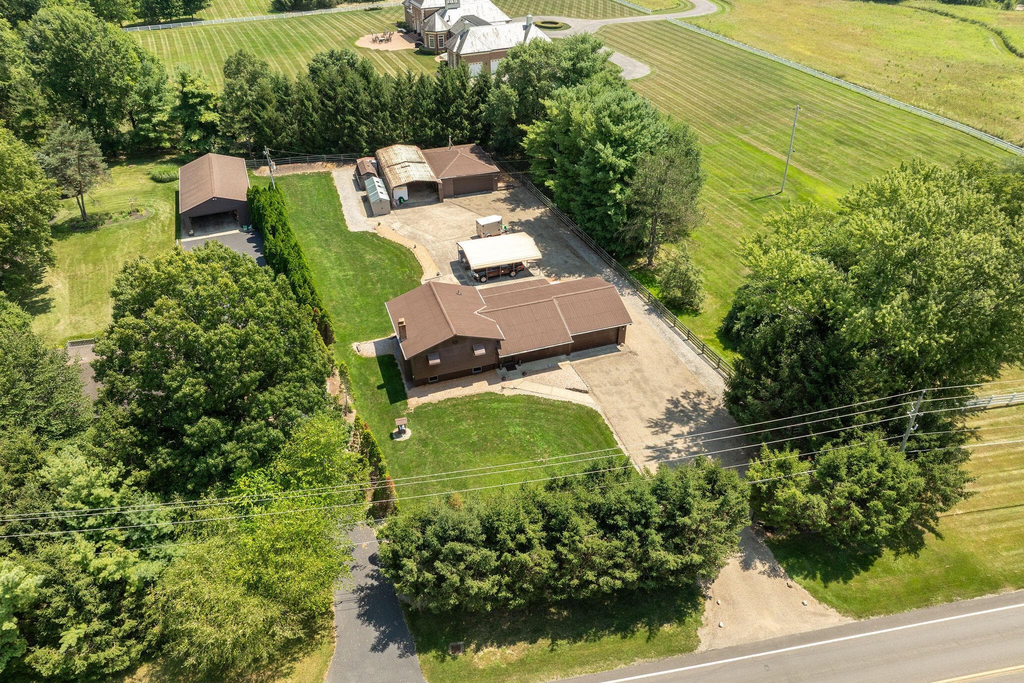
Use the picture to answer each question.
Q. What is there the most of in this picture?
trees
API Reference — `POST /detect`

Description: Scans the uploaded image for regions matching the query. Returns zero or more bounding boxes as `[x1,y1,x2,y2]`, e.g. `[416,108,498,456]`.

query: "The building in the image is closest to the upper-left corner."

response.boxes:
[172,155,247,237]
